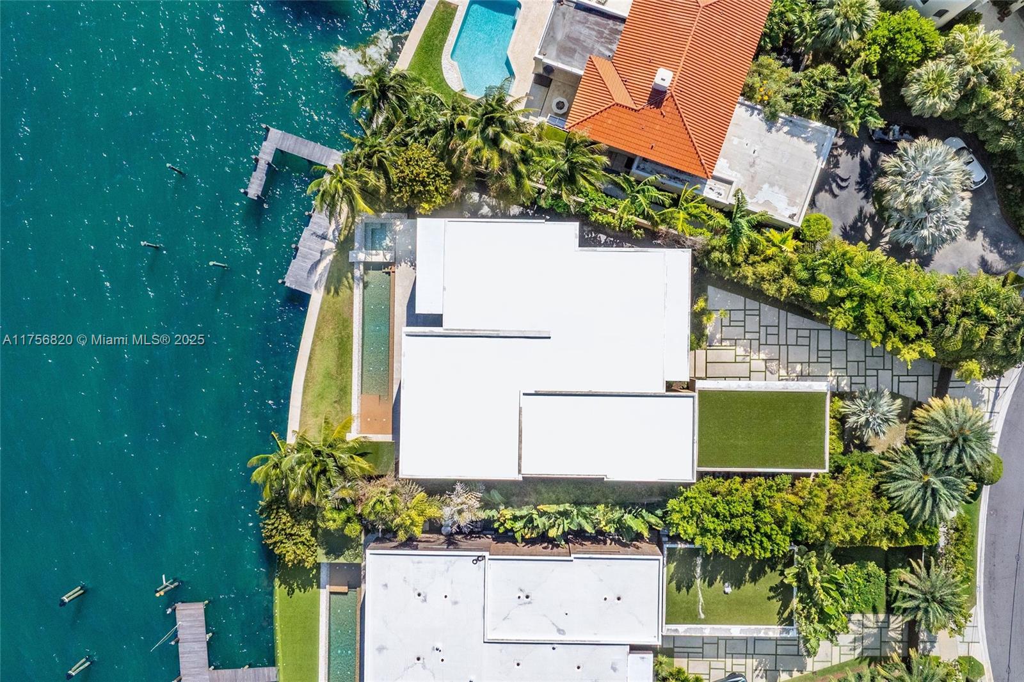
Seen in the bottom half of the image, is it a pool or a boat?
pool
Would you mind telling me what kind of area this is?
residential area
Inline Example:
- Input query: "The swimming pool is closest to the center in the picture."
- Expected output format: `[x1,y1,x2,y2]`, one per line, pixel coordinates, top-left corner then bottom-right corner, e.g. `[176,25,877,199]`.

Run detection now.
[347,212,408,442]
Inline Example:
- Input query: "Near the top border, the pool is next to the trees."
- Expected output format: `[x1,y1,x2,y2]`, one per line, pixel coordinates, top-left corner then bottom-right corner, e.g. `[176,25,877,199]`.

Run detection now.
[441,0,553,106]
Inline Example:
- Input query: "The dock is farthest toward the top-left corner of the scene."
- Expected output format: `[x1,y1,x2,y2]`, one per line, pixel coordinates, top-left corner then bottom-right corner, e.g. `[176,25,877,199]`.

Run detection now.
[242,126,341,202]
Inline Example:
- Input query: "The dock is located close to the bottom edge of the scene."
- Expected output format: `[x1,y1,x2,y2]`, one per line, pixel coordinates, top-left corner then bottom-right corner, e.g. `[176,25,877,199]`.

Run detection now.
[170,593,278,682]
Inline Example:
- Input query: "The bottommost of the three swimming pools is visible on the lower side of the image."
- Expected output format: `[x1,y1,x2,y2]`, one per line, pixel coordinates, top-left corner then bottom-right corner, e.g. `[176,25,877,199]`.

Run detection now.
[318,570,362,682]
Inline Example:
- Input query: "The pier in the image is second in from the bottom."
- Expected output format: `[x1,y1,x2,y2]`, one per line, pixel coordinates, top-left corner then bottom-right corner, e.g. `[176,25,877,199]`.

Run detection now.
[278,209,338,295]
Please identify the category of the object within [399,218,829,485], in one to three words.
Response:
house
